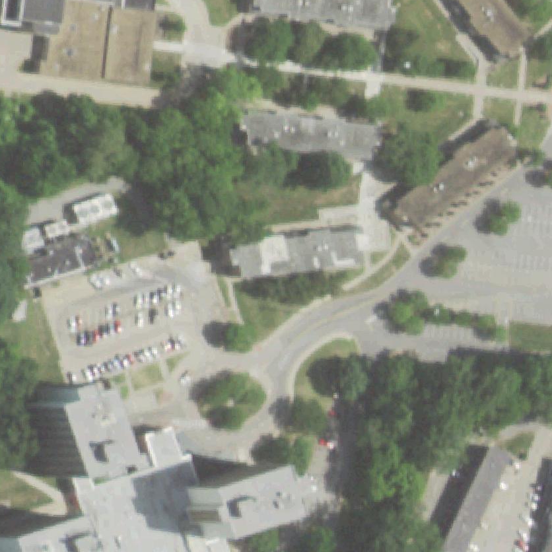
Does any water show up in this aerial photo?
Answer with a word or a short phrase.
No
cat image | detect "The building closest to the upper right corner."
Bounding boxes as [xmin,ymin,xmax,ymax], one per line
[447,0,533,58]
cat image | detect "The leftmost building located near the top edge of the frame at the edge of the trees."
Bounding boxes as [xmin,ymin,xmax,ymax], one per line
[0,0,156,86]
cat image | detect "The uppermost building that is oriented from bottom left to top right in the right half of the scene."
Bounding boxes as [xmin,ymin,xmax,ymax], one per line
[388,126,517,224]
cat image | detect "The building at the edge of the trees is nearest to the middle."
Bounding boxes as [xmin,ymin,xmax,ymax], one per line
[224,228,364,278]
